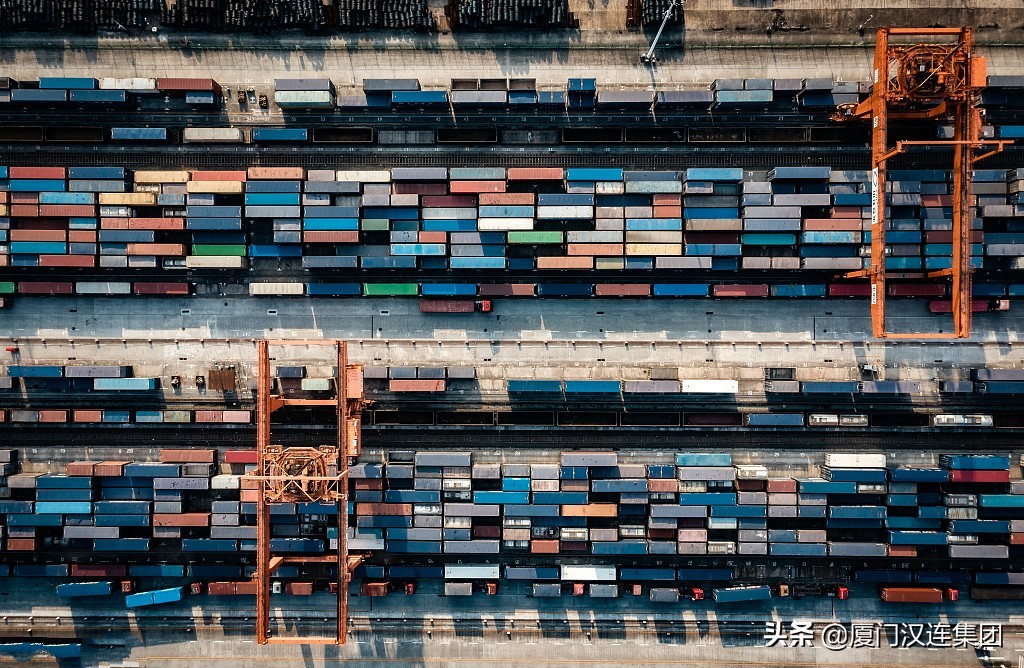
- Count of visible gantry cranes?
2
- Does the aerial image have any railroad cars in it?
Yes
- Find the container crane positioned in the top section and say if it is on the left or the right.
right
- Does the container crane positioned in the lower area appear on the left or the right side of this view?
left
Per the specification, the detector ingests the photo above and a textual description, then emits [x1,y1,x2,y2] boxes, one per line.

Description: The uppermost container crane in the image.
[832,27,1014,339]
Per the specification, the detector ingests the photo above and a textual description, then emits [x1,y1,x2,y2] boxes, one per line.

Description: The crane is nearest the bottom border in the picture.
[239,340,384,644]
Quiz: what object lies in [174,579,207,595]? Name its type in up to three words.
vehicle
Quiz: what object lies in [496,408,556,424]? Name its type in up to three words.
rail car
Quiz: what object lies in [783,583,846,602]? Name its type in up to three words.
vehicle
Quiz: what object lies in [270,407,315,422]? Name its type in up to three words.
rail car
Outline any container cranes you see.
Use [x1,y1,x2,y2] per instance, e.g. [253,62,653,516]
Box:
[832,27,1014,339]
[239,340,384,644]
